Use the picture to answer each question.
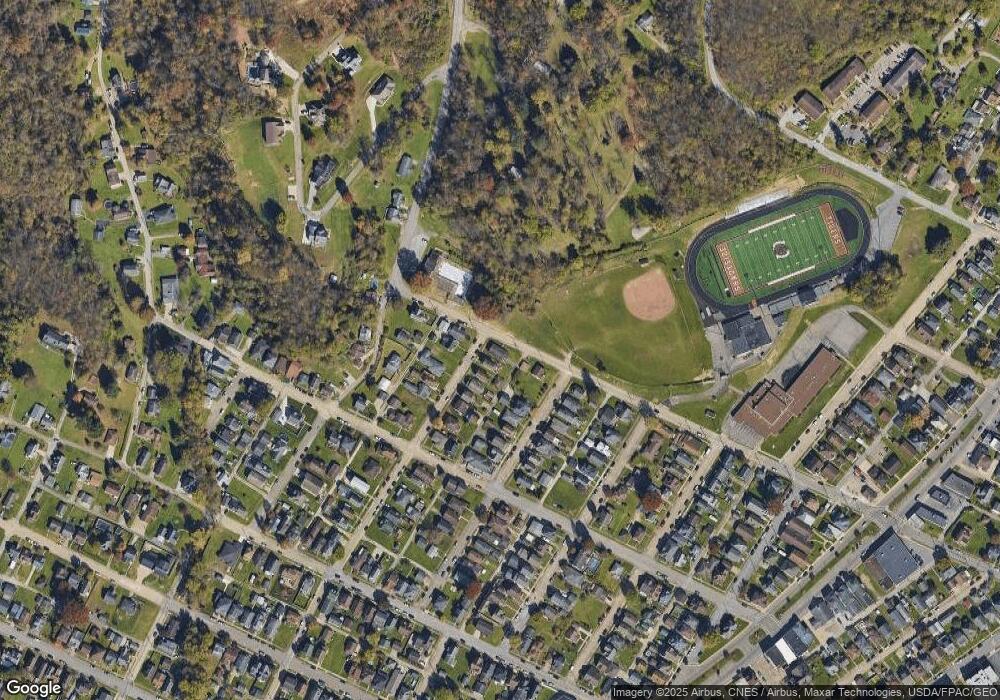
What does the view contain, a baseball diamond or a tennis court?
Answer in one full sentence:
The image shows a baseball diamond.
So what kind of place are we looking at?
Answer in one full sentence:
The area seen from above is a residential area.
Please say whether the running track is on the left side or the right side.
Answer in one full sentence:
The running track is on the right side of the image.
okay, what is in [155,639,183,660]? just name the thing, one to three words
house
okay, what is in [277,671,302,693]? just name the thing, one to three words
house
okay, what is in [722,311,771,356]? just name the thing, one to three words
building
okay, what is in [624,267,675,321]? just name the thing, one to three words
baseball field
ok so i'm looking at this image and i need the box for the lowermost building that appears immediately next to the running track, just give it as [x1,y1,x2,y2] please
[733,349,841,438]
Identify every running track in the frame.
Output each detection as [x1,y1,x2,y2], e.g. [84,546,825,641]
[690,185,872,320]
